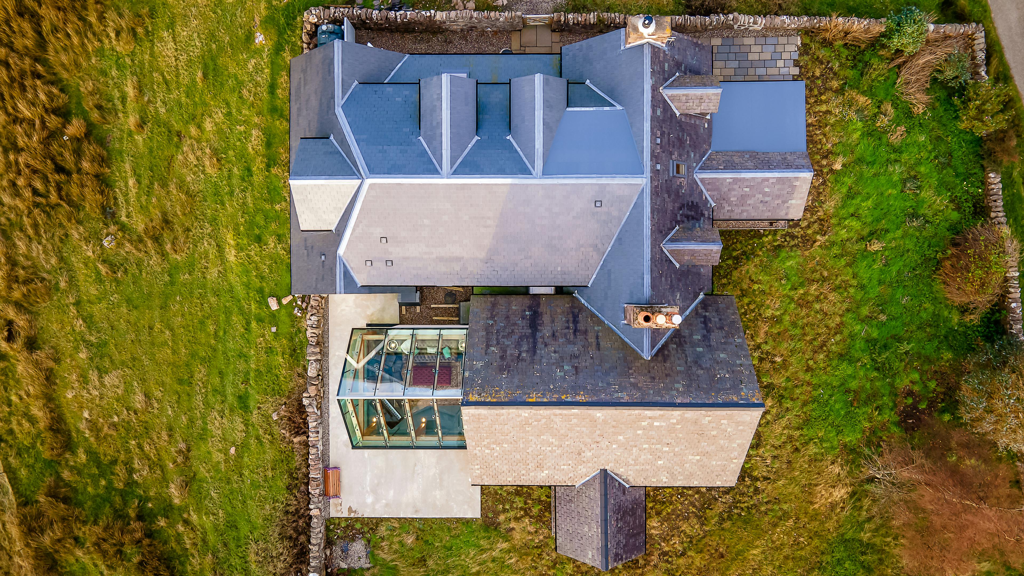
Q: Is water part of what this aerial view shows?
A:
No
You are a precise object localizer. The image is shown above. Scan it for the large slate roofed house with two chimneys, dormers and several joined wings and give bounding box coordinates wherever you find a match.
[288,16,815,572]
